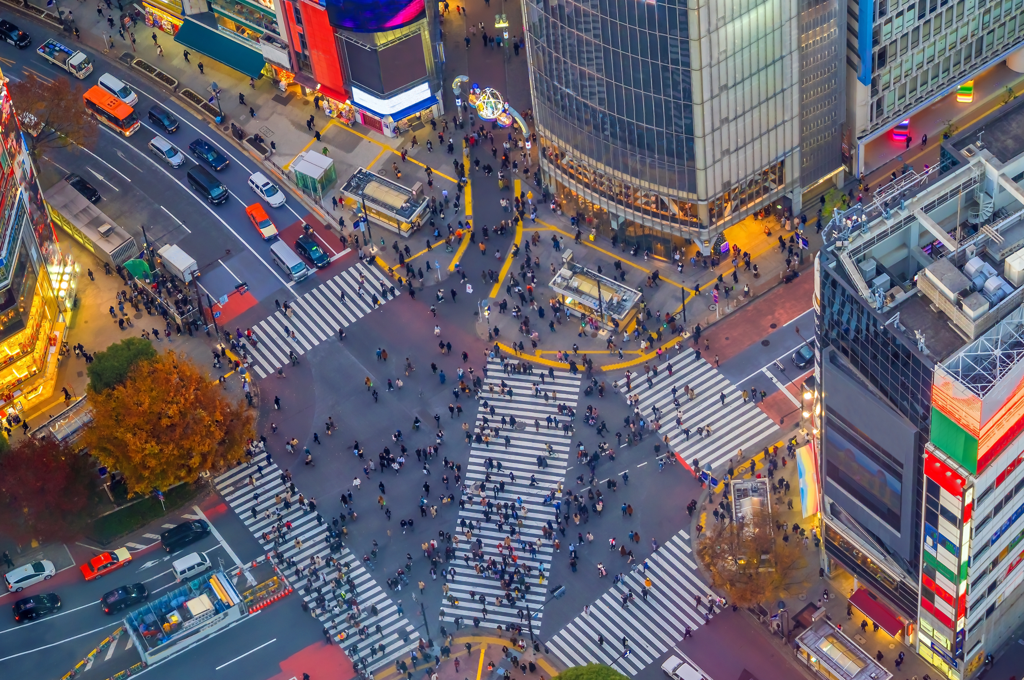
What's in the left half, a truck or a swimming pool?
truck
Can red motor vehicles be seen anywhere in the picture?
Yes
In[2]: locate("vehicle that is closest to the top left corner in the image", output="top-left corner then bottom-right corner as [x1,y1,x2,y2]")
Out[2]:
[0,15,31,47]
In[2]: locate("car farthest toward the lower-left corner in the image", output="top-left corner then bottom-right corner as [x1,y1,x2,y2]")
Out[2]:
[6,592,60,623]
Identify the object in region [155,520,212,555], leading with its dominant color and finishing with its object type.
black van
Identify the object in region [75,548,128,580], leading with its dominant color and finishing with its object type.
red car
